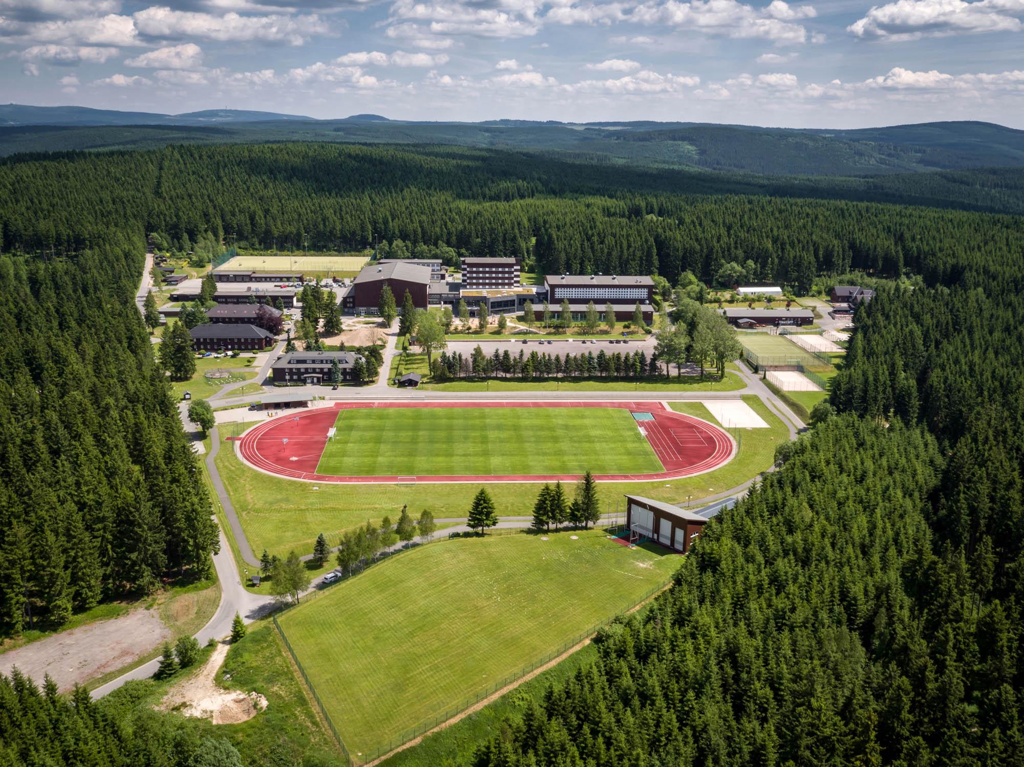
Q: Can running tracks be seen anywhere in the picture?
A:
Yes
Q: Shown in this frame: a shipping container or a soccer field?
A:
soccer field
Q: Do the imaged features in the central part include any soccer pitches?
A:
Yes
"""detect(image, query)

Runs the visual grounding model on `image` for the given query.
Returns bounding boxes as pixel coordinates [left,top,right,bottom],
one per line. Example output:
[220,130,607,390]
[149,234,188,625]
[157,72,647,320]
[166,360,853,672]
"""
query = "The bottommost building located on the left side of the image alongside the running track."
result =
[259,388,313,410]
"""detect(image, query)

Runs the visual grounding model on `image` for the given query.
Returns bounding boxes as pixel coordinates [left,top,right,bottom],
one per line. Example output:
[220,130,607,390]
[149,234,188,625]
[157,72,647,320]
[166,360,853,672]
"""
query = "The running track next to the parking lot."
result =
[240,406,731,482]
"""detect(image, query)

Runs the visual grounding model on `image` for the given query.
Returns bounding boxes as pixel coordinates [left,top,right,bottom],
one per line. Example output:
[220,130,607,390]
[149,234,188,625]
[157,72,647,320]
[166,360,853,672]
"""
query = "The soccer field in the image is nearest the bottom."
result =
[316,408,665,475]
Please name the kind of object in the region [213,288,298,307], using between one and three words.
building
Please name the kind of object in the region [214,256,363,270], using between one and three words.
sports field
